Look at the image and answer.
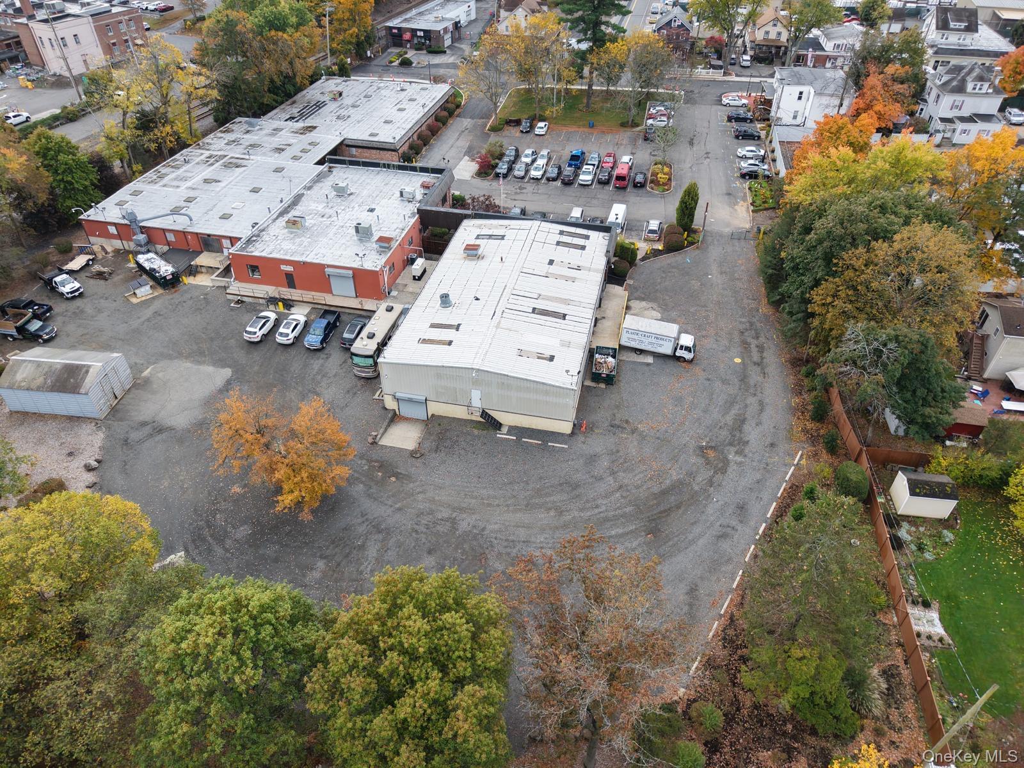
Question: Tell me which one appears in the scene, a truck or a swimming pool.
truck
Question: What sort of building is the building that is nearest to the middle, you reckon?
warehouse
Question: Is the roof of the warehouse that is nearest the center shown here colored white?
Yes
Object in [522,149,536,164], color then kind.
white car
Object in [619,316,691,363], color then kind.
white truck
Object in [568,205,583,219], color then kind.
white car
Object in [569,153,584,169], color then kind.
blue vehicle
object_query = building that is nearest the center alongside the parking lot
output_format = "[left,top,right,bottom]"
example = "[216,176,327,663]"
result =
[376,216,611,444]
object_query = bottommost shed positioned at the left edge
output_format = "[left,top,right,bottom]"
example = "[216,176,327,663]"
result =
[0,352,138,420]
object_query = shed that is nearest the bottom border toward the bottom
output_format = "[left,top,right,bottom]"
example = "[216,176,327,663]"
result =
[889,469,962,519]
